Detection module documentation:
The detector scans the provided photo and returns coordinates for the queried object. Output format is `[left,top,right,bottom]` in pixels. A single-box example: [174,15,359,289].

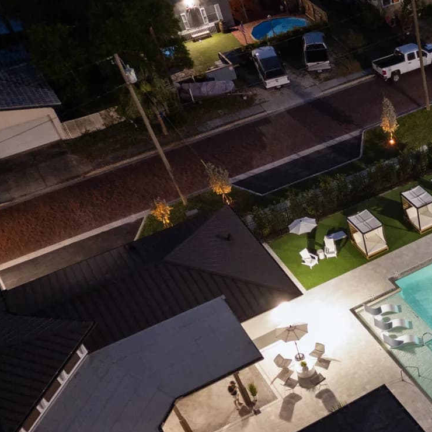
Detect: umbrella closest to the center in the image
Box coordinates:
[285,223,316,262]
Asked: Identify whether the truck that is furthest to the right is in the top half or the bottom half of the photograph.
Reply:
top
